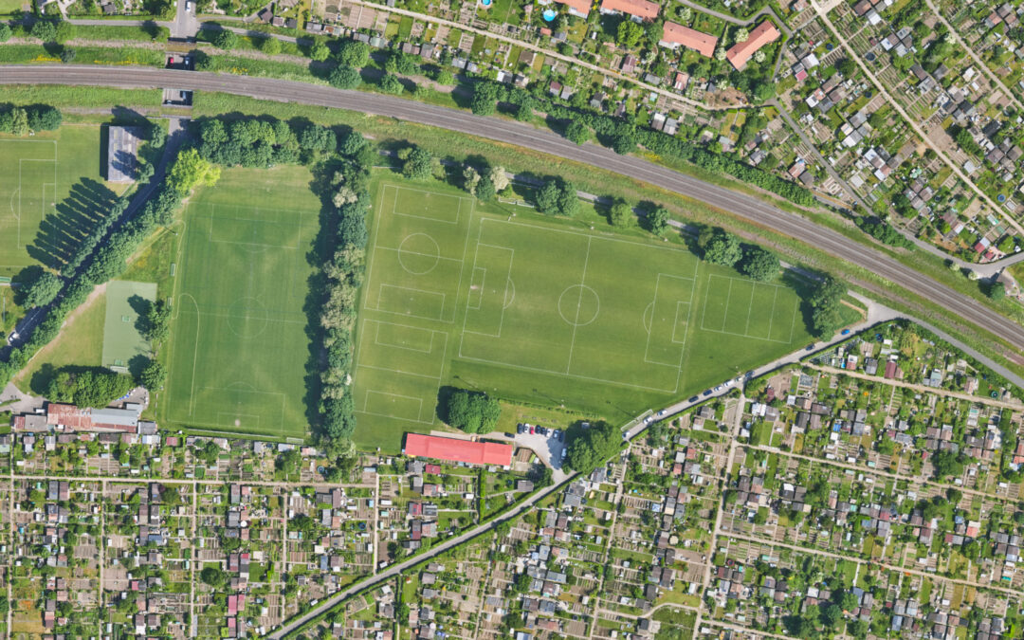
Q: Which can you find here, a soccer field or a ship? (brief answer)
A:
soccer field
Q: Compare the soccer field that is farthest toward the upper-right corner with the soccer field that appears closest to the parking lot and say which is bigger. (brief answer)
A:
the soccer field that is farthest toward the upper-right corner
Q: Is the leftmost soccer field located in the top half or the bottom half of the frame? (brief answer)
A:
top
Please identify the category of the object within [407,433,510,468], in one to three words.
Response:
building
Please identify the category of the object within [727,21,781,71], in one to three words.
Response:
house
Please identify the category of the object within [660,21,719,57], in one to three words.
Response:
house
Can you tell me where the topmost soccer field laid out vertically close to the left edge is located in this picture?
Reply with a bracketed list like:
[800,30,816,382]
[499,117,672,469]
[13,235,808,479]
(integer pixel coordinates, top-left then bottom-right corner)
[0,138,59,270]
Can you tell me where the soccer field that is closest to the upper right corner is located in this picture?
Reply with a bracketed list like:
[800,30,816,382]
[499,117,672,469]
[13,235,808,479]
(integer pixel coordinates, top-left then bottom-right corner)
[455,215,702,395]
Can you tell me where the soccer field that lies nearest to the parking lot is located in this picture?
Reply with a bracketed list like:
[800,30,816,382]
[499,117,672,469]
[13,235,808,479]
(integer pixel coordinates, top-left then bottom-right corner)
[352,318,448,425]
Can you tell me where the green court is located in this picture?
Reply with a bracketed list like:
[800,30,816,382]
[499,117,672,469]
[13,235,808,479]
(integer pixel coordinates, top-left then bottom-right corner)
[102,280,158,371]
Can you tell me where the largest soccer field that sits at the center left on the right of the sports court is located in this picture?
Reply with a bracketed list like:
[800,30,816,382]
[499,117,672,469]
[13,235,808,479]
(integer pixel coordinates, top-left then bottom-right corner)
[160,202,328,439]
